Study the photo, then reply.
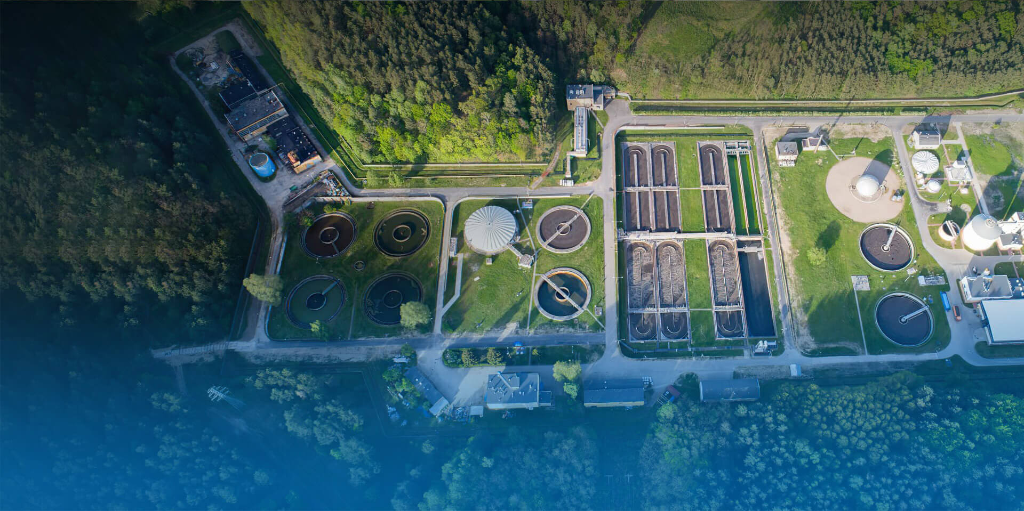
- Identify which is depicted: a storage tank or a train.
storage tank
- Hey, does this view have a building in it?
Yes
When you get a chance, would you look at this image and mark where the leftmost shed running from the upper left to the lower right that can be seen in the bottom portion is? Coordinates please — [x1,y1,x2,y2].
[404,365,445,406]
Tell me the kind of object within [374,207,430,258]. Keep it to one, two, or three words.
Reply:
storage tank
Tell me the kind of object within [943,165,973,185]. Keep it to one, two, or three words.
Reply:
house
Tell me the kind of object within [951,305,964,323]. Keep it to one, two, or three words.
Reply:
vehicle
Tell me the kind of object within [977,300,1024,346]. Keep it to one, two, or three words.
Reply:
building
